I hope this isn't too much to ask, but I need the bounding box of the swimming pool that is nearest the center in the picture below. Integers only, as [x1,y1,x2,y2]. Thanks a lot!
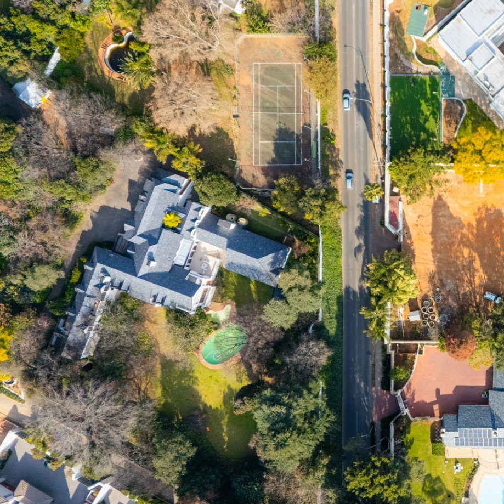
[204,301,236,328]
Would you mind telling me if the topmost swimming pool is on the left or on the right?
left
